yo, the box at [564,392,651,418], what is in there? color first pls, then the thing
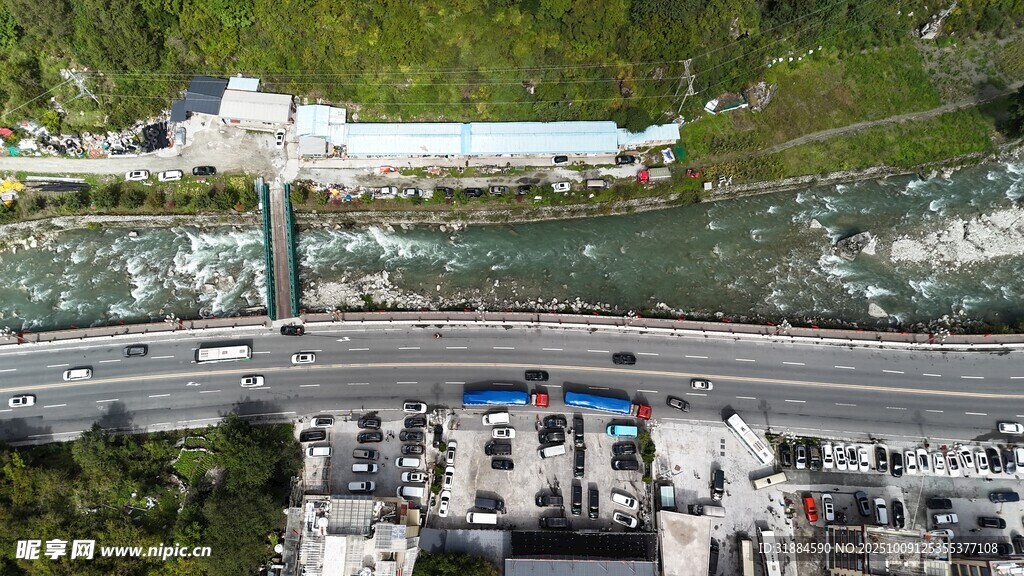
blue truck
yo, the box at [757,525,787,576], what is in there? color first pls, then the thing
white bus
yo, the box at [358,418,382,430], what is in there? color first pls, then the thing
black vehicle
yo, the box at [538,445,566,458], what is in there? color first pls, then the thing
white vehicle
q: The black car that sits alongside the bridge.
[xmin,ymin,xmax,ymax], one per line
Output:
[280,324,304,336]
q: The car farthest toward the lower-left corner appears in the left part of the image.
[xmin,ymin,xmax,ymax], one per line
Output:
[9,394,36,406]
